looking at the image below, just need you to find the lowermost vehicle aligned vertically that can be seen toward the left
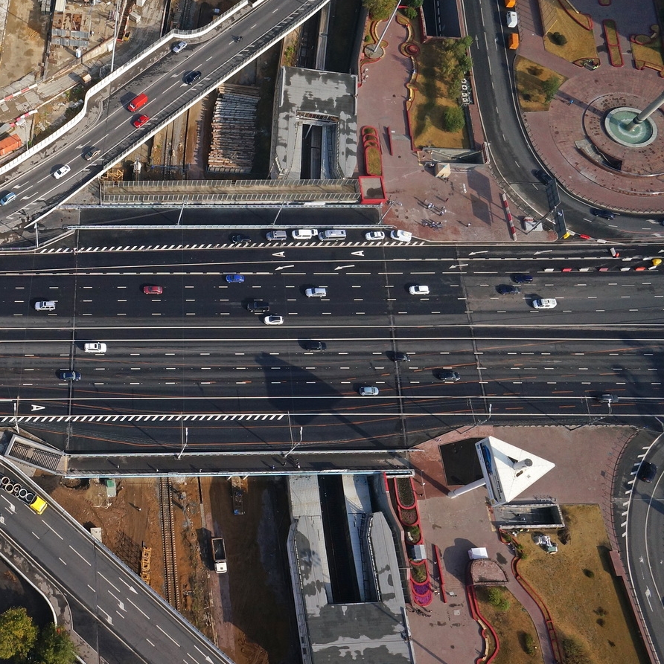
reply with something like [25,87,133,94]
[212,535,228,576]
